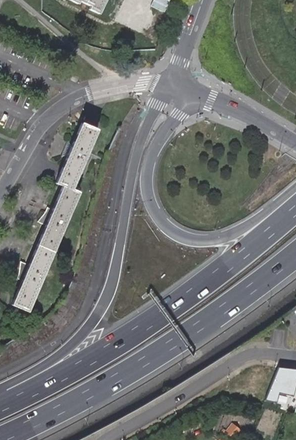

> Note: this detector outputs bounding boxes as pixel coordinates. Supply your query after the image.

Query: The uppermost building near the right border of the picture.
[266,365,296,402]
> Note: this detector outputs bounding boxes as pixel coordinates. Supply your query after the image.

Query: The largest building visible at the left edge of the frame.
[12,184,82,312]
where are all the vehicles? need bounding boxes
[6,89,14,100]
[26,410,38,418]
[24,98,31,110]
[105,332,116,341]
[228,306,240,318]
[228,100,240,107]
[176,393,186,401]
[112,384,122,392]
[44,379,56,388]
[13,92,20,104]
[172,297,186,308]
[113,338,125,347]
[272,263,283,272]
[46,420,56,428]
[1,111,8,126]
[232,242,242,251]
[162,294,174,304]
[96,373,107,382]
[188,14,194,25]
[198,287,212,298]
